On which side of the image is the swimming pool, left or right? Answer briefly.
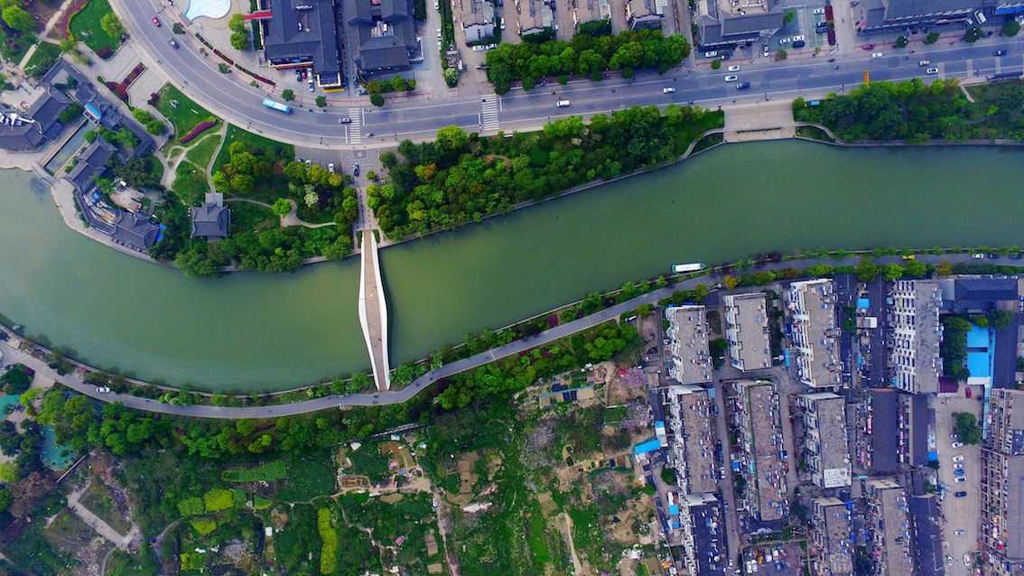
left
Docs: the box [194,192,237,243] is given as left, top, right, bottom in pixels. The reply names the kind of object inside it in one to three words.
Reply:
building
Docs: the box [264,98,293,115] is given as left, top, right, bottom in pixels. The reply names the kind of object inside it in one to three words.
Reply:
vehicle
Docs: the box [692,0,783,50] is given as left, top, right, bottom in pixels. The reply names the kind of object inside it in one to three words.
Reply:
house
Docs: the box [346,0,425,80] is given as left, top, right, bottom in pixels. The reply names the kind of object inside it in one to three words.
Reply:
building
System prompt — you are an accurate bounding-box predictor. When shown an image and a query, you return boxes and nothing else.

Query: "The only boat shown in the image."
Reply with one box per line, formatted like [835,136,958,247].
[670,262,704,274]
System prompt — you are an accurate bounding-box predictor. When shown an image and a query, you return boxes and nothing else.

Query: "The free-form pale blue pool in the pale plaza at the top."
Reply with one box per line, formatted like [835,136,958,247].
[183,0,232,22]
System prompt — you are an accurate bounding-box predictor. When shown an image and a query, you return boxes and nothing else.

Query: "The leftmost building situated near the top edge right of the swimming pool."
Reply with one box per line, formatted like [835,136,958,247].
[260,0,344,94]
